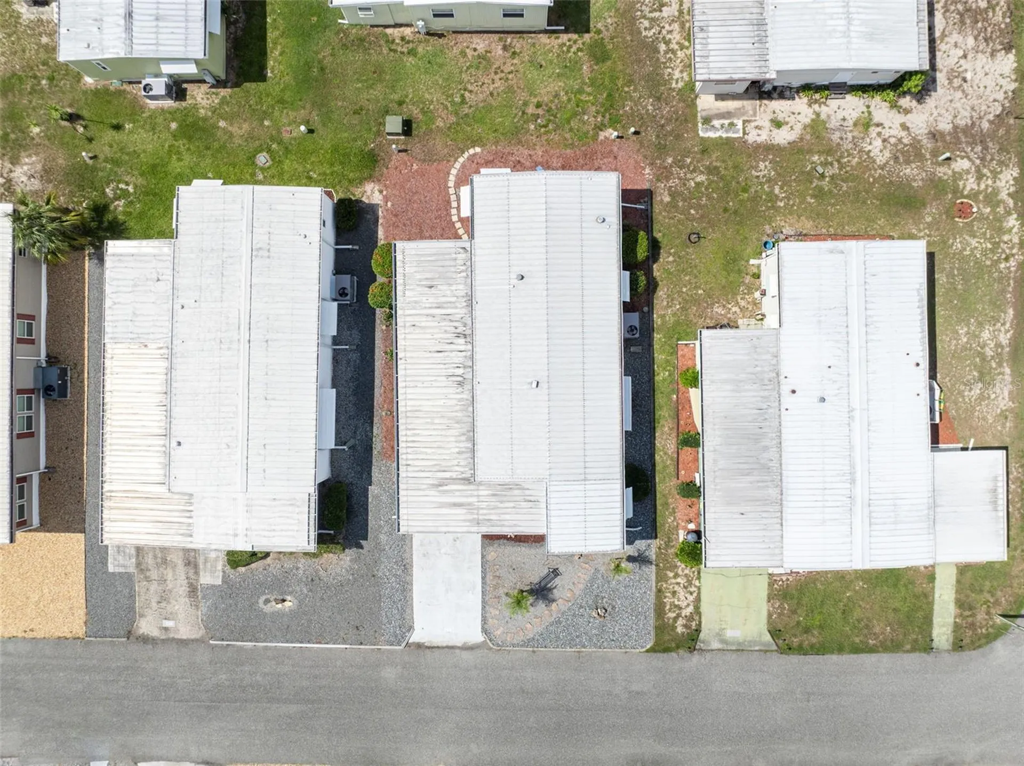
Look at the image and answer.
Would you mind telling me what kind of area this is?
residential area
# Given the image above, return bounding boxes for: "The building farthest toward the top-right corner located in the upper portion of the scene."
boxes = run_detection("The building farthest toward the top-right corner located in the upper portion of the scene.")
[690,0,930,98]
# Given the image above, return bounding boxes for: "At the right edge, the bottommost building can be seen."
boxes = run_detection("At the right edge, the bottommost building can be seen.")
[692,239,1009,571]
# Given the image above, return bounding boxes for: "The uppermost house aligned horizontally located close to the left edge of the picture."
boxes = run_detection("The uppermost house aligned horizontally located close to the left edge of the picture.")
[48,0,225,82]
